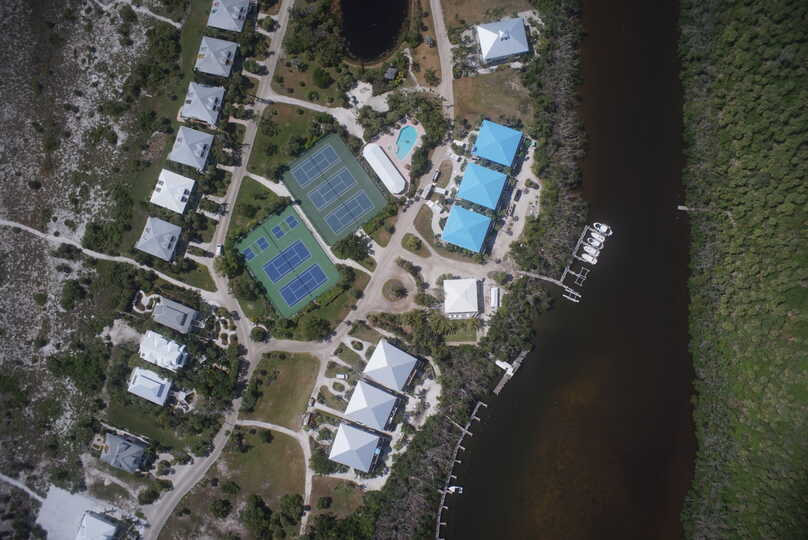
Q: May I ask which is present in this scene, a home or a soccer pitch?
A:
home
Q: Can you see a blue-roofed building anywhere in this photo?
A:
Yes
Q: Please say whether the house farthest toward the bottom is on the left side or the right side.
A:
left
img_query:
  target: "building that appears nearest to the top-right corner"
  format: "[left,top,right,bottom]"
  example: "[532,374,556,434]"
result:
[477,17,528,67]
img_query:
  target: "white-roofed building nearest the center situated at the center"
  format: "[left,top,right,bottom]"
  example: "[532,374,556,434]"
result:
[443,279,478,317]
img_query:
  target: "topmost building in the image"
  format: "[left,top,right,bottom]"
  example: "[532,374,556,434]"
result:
[208,0,256,36]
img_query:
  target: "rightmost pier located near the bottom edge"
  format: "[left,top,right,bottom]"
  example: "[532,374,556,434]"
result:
[436,402,488,540]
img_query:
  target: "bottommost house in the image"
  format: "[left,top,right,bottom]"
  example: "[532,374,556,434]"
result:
[77,510,126,540]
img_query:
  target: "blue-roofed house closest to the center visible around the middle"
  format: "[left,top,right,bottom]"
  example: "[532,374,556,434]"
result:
[441,205,493,253]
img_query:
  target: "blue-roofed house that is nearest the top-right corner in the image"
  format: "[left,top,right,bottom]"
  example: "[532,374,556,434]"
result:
[473,119,524,168]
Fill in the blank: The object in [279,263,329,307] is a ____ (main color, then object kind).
blue tennis court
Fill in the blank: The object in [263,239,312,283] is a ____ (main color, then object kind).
blue tennis court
